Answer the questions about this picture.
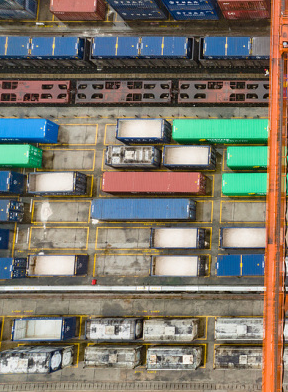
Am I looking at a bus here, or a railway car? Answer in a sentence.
Looking from above, you can make out a railway car.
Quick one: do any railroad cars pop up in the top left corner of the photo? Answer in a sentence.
Yes, there is a railroad car in the top left corner of the photo.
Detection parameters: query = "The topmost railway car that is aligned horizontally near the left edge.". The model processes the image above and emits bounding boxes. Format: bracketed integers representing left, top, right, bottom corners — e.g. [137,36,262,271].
[0,35,93,67]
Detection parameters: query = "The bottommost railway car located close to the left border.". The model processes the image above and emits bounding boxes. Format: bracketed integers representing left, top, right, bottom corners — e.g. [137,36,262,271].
[0,80,75,103]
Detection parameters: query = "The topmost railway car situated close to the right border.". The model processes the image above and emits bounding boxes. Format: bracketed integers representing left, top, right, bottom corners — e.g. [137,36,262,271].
[199,36,287,67]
